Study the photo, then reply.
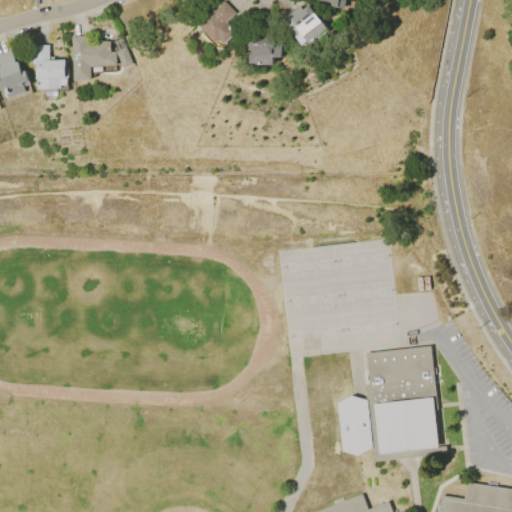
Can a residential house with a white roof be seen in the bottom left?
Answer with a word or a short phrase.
No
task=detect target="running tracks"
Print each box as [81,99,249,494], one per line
[0,236,275,405]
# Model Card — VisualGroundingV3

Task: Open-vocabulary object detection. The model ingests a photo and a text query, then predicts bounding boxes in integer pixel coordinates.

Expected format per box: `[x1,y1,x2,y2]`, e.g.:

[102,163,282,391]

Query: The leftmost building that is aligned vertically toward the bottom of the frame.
[338,396,372,456]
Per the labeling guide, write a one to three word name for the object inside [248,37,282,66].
house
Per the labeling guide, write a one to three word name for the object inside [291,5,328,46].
house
